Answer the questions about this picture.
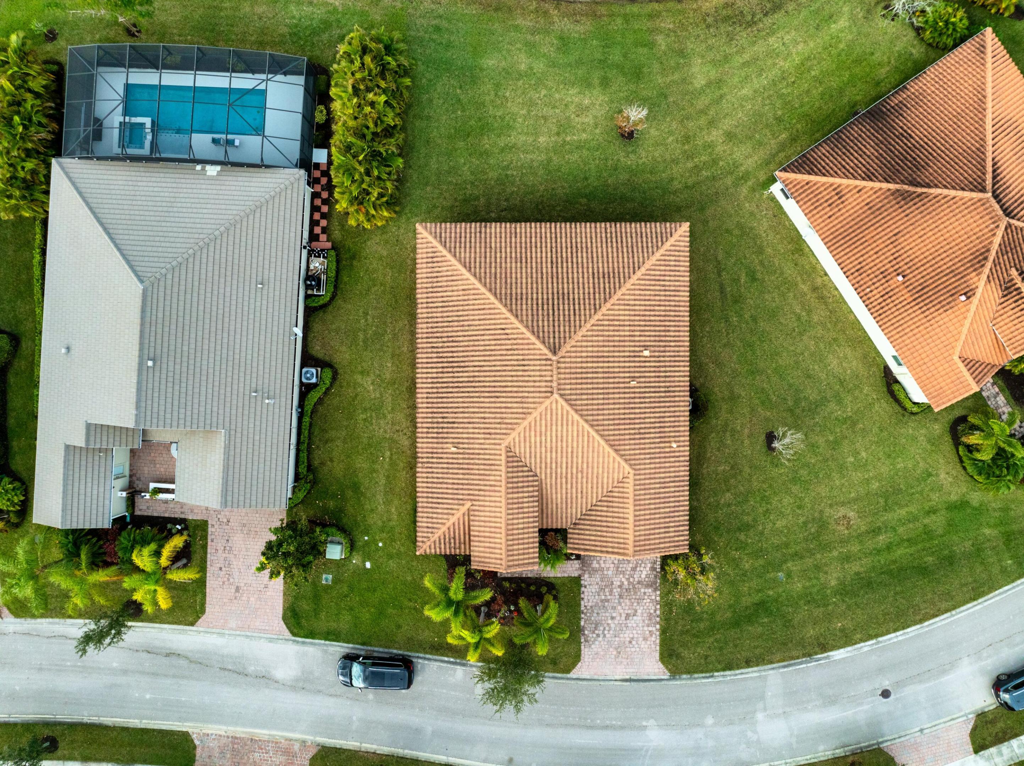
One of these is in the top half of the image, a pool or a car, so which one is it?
pool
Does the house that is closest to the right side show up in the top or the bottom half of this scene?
top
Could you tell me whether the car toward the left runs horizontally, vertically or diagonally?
horizontally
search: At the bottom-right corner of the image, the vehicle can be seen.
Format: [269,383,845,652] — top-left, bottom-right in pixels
[991,668,1024,714]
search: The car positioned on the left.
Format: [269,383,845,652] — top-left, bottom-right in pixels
[336,651,415,693]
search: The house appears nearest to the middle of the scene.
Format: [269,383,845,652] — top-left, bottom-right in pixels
[414,220,691,574]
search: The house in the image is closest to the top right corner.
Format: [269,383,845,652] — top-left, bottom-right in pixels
[762,24,1024,412]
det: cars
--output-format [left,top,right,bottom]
[336,651,415,693]
[991,668,1024,714]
